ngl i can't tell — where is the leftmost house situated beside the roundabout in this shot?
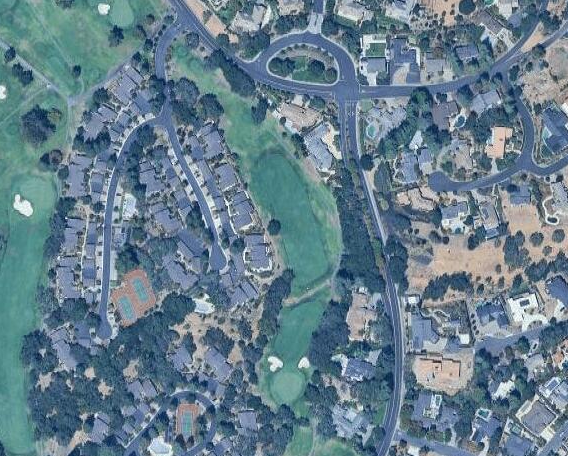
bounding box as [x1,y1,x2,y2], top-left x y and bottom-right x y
[230,1,267,34]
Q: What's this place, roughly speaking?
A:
residential area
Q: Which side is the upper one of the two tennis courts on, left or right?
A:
left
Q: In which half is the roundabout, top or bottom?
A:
top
